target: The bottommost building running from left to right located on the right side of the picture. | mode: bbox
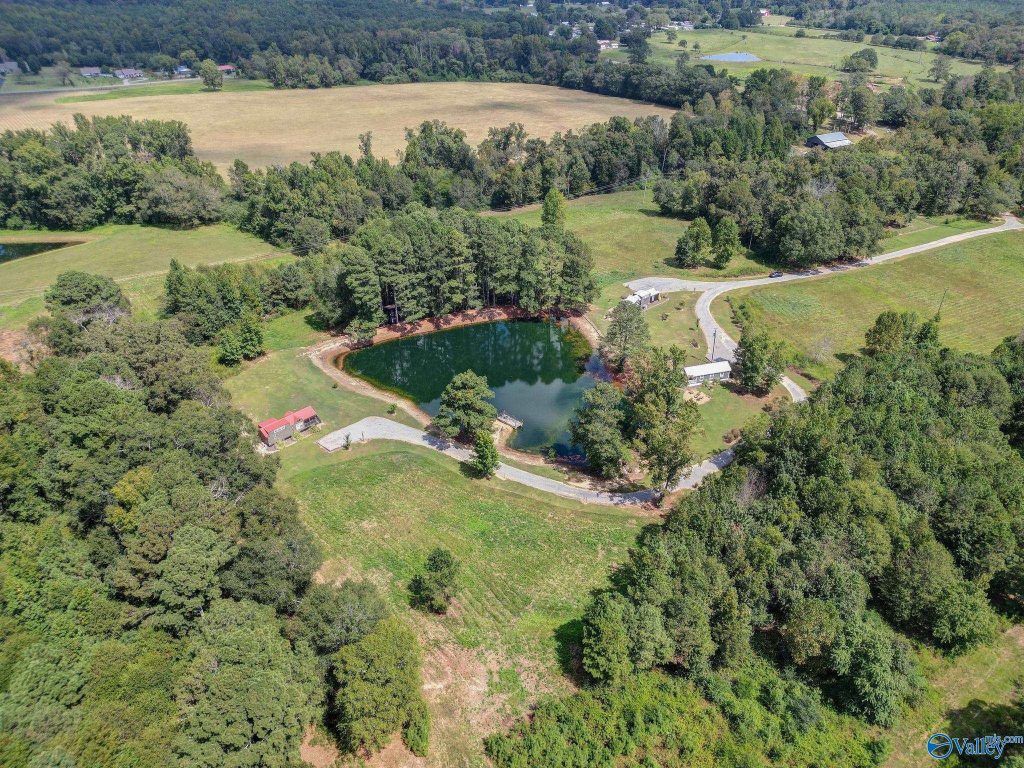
[683,360,733,385]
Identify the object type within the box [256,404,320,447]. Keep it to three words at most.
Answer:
building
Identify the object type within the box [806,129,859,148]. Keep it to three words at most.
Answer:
barn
